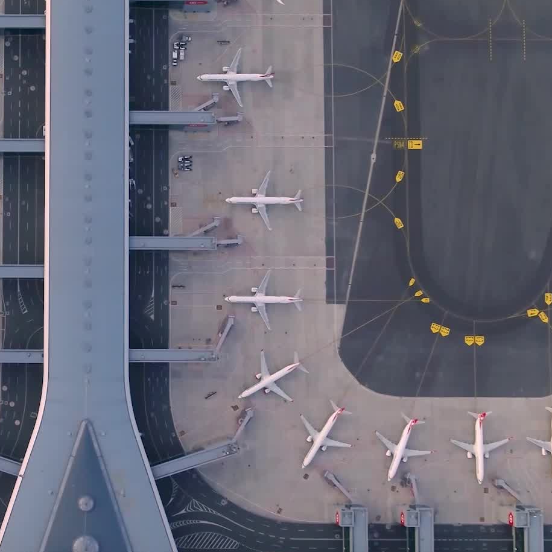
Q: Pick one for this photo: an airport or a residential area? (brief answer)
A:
airport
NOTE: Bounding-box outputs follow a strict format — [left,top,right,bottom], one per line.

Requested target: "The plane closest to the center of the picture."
[225,269,305,330]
